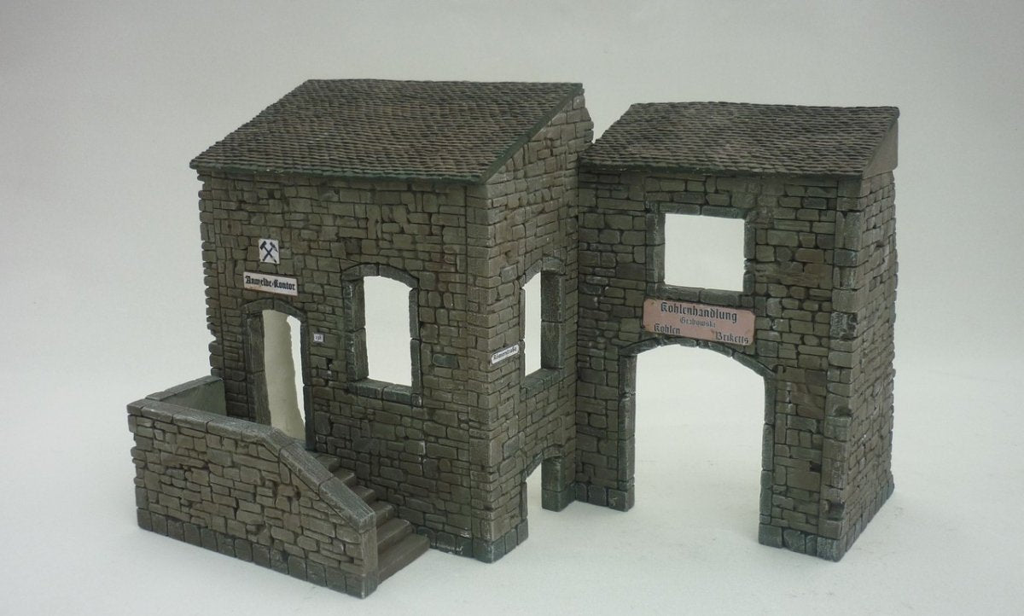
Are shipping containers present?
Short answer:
No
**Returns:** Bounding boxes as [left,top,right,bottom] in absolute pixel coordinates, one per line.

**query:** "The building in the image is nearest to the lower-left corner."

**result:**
[189,79,594,562]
